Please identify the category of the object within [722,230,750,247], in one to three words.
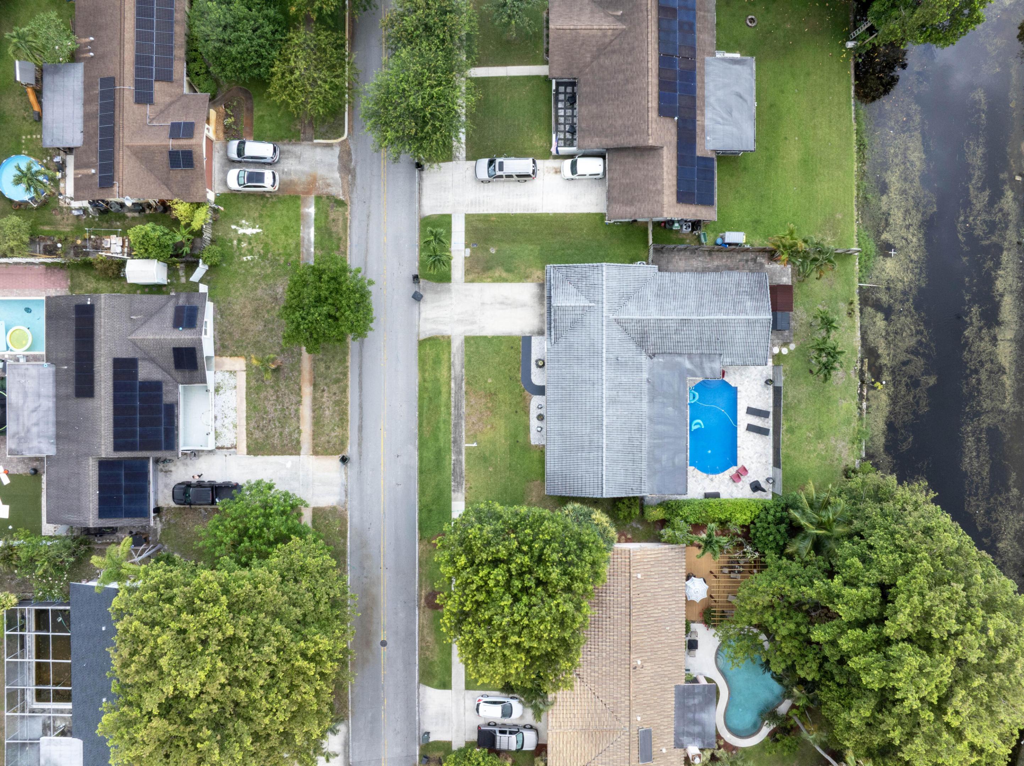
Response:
shed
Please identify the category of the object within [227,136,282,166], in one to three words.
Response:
car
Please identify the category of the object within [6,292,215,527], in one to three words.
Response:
house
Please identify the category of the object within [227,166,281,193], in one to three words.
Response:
car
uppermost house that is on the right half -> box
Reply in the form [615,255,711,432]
[549,0,756,222]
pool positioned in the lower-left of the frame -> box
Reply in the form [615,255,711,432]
[32,609,71,705]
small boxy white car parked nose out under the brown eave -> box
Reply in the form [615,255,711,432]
[560,155,605,181]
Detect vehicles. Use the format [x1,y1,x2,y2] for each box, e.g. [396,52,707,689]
[476,692,523,721]
[560,155,605,181]
[227,136,282,166]
[172,480,245,509]
[477,721,539,752]
[227,166,281,193]
[475,154,537,184]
